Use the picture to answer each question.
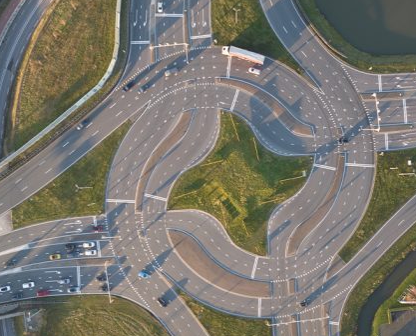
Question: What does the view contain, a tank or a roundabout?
roundabout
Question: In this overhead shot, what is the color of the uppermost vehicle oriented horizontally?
white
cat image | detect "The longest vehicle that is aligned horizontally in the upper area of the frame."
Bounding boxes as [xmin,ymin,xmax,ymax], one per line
[223,44,267,64]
